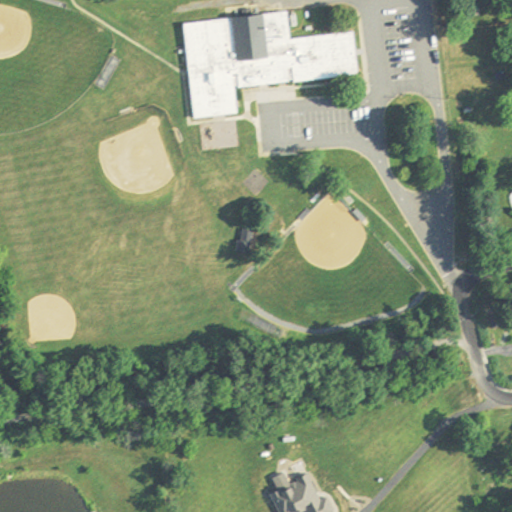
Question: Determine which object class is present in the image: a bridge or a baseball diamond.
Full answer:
The image shows a baseball diamond.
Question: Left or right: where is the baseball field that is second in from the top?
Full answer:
The baseball field that is second in from the top sits on the left side.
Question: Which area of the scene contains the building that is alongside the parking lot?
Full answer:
You can find the building that is alongside the parking lot in the top area of the picture.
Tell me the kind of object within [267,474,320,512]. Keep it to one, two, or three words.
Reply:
house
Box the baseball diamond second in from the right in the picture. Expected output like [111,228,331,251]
[98,114,175,194]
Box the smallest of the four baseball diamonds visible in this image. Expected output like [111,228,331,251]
[26,293,76,344]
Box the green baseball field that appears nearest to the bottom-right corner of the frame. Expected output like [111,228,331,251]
[239,194,422,328]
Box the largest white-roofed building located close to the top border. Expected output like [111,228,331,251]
[182,10,360,118]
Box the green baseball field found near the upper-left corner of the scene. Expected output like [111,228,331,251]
[0,0,114,132]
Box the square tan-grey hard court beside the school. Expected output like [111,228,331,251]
[200,122,238,150]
